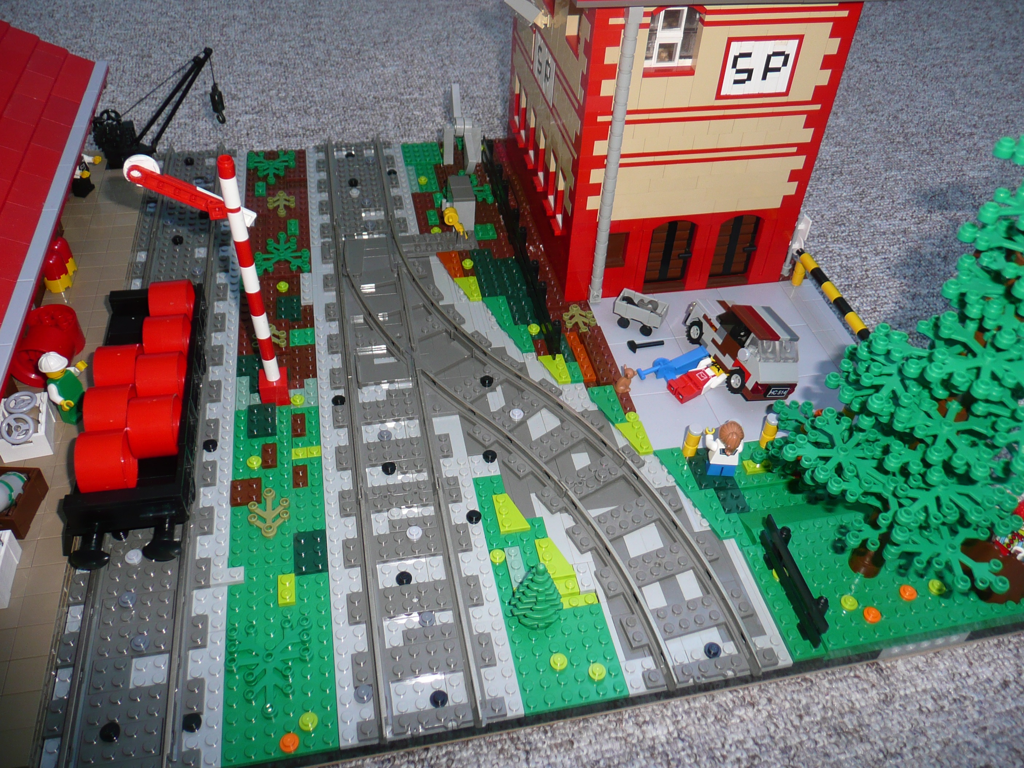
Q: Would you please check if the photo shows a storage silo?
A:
No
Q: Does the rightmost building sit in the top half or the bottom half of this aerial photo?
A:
top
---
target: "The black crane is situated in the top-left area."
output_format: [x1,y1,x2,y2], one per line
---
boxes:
[93,45,231,172]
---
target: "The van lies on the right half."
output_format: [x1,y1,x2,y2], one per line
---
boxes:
[684,300,794,408]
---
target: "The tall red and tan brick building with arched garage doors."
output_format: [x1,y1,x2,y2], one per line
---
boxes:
[502,0,912,299]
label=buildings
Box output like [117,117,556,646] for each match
[502,0,912,299]
[0,23,111,429]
